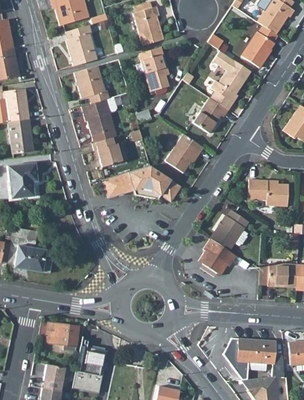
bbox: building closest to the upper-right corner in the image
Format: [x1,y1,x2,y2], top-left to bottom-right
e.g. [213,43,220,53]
[256,0,295,36]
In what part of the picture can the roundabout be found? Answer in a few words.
bottom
